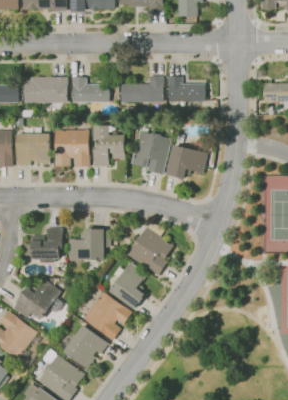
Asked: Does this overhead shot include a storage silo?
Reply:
No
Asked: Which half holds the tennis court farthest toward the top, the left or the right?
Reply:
right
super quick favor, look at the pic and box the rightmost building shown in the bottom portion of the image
[129,228,175,276]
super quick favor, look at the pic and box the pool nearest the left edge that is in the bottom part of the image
[24,264,48,276]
